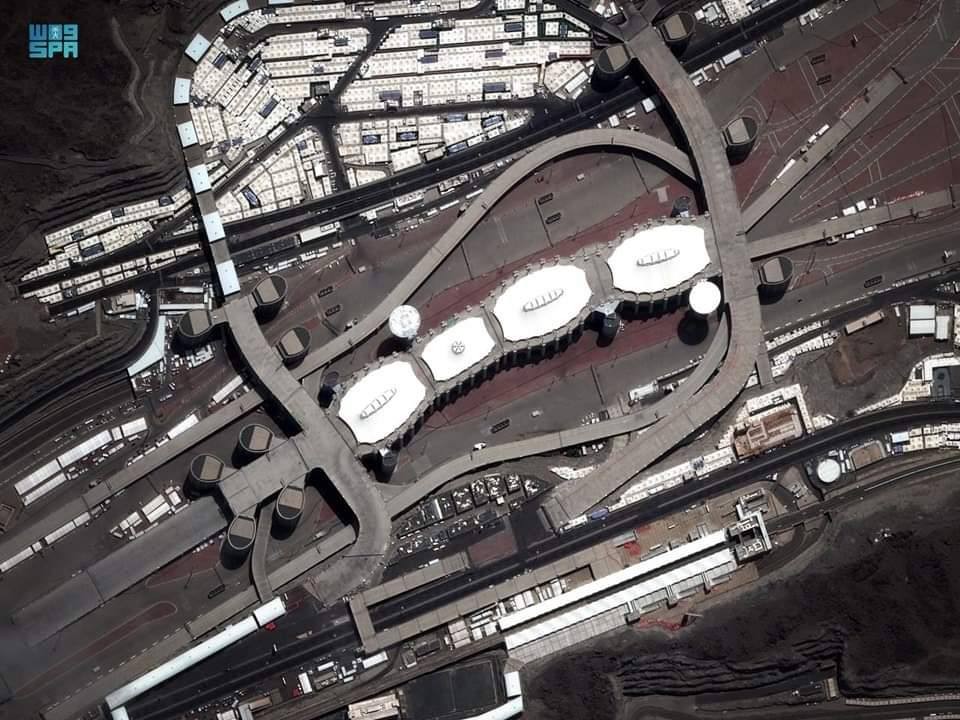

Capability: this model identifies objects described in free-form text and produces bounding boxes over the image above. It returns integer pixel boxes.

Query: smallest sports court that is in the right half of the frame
[847,439,889,472]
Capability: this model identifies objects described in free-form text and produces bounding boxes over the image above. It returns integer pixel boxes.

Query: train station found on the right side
[498,488,771,673]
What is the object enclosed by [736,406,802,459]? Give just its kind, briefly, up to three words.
building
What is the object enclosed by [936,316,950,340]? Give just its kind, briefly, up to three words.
building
